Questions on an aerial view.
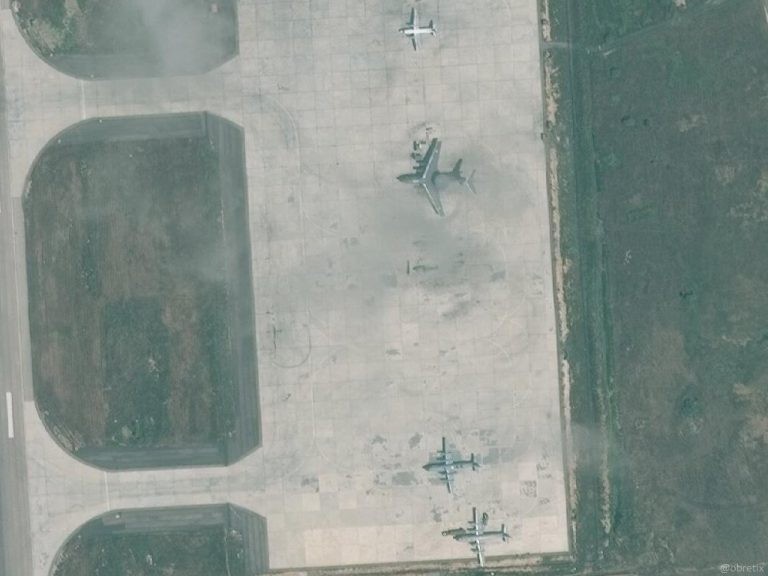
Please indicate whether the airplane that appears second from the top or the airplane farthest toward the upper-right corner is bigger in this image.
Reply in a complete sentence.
Of the two, the airplane that appears second from the top is bigger, while the airplane farthest toward the upper-right corner is smaller.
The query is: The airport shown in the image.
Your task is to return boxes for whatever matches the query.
[0,0,568,576]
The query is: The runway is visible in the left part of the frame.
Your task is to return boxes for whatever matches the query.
[0,0,30,576]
